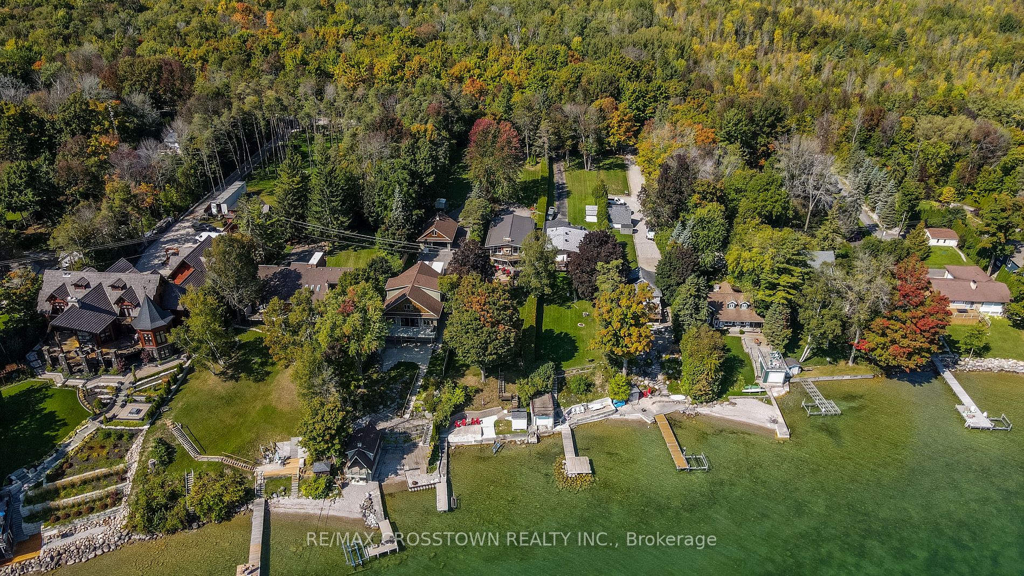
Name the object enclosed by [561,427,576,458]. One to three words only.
pier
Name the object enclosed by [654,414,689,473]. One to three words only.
pier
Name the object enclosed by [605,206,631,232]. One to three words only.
building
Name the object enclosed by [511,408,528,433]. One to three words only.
shed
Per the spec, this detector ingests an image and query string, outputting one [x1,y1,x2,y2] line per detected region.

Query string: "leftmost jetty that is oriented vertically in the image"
[236,499,267,576]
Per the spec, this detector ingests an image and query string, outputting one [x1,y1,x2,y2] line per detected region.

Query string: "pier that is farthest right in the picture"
[937,364,992,433]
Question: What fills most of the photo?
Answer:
trees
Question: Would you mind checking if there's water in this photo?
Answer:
Yes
